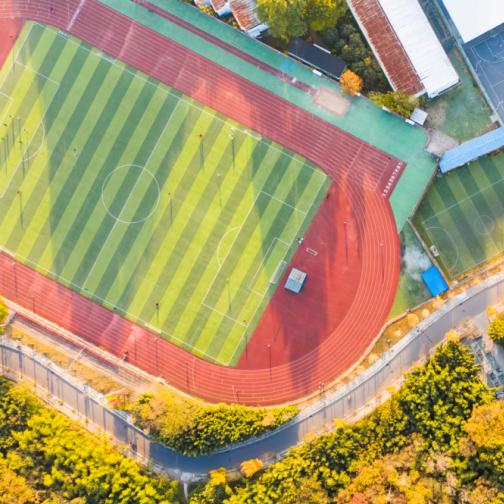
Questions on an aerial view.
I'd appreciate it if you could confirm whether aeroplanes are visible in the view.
No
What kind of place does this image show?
sports ground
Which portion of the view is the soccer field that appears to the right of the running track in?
right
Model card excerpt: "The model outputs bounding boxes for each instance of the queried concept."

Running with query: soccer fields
[0,20,332,368]
[411,145,504,288]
